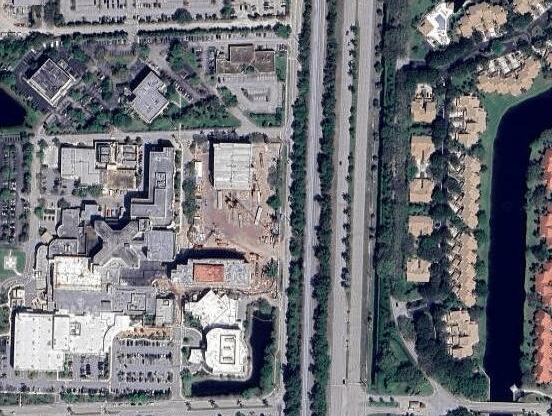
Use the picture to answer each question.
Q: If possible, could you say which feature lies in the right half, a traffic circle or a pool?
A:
pool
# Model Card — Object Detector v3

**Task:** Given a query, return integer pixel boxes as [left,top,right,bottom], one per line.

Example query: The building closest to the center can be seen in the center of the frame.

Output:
[213,144,251,190]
